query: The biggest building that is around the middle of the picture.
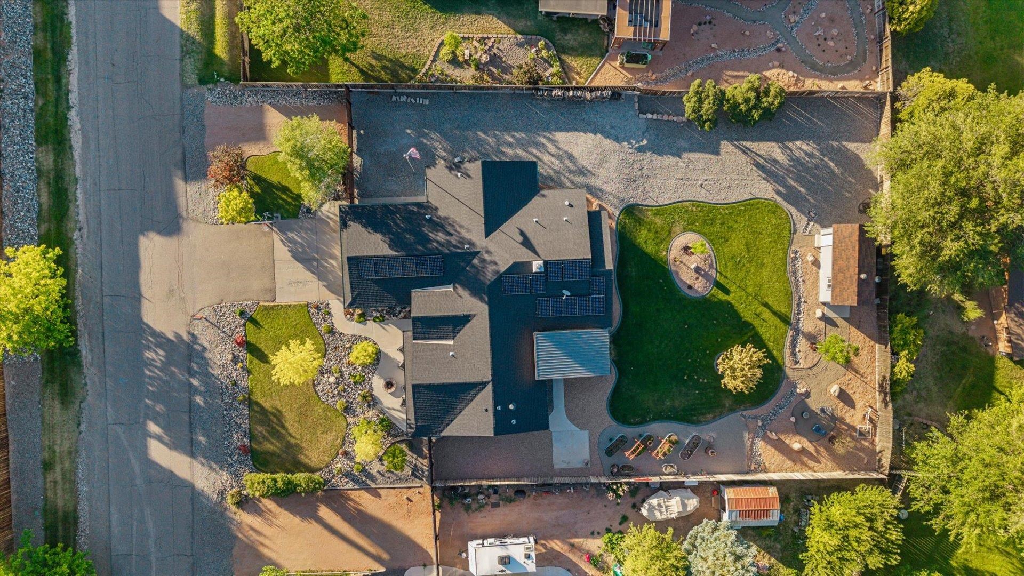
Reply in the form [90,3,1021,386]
[340,157,615,439]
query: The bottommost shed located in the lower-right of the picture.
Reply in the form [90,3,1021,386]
[718,481,782,528]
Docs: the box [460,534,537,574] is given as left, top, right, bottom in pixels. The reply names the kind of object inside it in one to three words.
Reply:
trailer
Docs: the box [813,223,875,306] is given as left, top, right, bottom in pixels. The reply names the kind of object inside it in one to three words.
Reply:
shed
